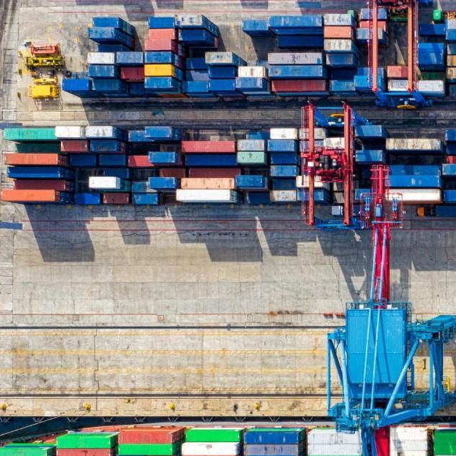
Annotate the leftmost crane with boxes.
[303,102,374,229]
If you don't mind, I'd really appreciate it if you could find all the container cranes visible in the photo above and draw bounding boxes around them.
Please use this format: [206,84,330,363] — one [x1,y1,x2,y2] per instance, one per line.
[322,164,456,456]
[303,102,374,229]
[366,0,433,112]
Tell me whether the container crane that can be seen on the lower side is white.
No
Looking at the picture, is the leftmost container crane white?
No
